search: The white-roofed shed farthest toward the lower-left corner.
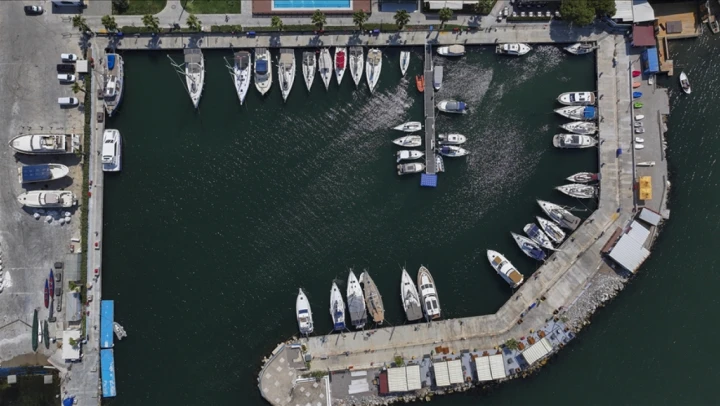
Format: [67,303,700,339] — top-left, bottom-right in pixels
[63,330,85,359]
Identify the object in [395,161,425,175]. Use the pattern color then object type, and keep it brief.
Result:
gray boat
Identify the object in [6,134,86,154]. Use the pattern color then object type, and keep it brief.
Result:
white boat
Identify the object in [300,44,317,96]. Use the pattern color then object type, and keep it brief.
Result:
gray boat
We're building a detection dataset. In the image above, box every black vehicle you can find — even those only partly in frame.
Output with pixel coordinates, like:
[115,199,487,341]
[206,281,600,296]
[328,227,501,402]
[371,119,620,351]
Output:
[24,5,45,15]
[56,63,77,73]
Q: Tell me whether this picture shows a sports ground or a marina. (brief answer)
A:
marina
